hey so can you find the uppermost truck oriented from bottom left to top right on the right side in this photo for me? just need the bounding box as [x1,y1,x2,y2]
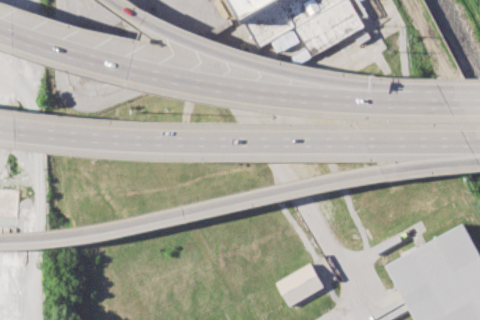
[376,235,408,258]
